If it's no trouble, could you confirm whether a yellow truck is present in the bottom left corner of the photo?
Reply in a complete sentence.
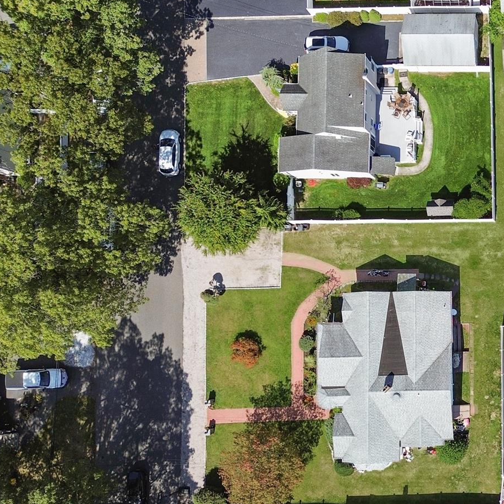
No, I can find no yellow truck in the bottom left corner of the photo.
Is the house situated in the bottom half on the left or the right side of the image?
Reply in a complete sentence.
You can find the house situated in the bottom half on the right side of the picture.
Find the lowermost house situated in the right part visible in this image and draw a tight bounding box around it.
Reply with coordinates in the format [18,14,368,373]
[317,273,459,472]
